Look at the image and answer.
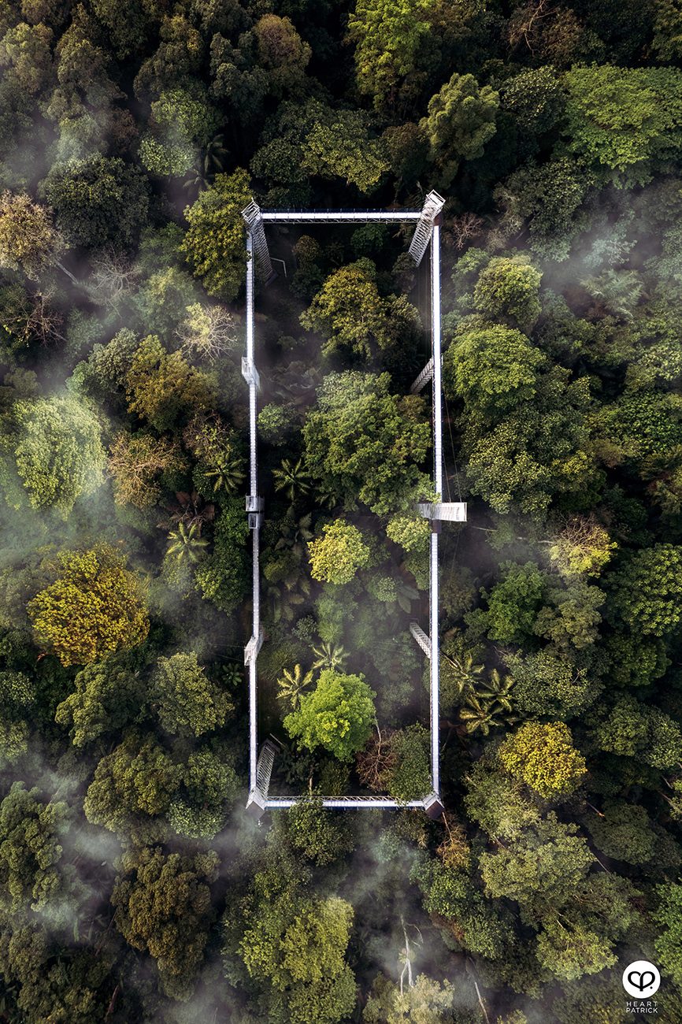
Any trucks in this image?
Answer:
No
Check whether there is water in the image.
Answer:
No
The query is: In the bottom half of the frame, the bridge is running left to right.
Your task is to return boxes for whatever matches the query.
[266,795,425,810]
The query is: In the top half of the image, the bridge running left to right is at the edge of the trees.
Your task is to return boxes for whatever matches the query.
[261,208,427,223]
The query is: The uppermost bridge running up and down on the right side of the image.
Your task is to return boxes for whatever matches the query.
[431,226,444,503]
